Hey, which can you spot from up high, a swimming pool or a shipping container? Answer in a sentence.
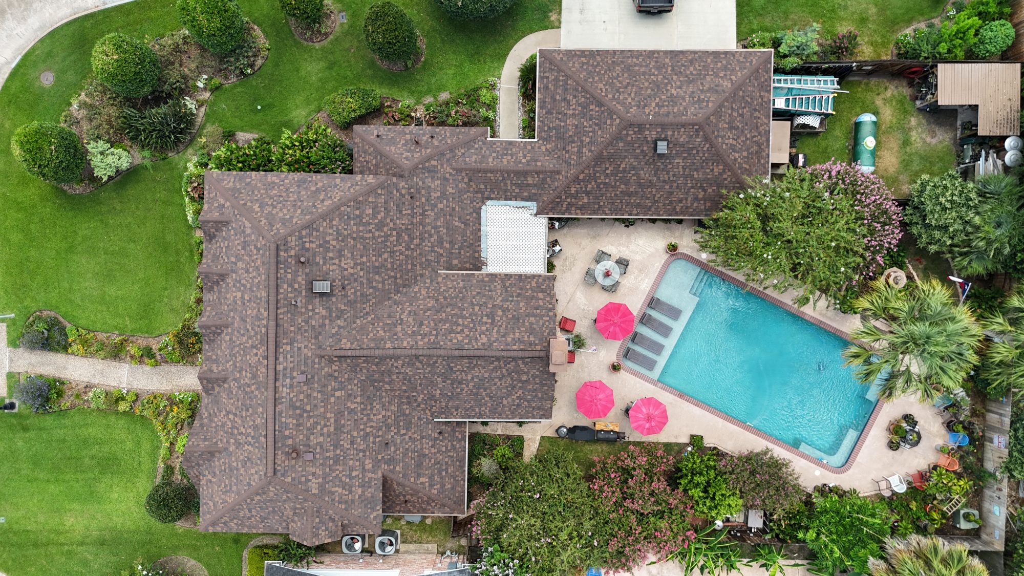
There is a swimming pool in the scene.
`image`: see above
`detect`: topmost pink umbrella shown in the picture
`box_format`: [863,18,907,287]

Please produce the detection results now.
[594,301,633,340]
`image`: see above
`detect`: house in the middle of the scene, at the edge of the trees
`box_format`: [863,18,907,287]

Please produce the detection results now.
[181,48,774,546]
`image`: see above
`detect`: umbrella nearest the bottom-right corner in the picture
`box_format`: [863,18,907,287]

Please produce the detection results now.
[626,394,666,434]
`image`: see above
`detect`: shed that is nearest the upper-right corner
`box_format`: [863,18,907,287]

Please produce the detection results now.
[912,63,1021,144]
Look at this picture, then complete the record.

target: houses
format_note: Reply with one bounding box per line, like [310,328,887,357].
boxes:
[181,48,774,546]
[253,553,473,576]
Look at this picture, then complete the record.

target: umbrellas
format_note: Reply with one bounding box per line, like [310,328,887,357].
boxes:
[594,301,633,340]
[626,394,666,434]
[574,378,613,417]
